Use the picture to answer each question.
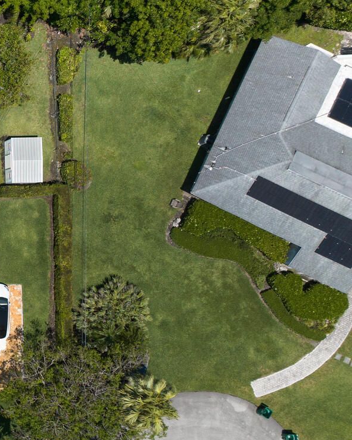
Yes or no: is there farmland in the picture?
No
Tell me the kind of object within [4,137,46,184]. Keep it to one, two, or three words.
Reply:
shed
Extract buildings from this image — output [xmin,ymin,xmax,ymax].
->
[4,137,46,184]
[187,36,352,277]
